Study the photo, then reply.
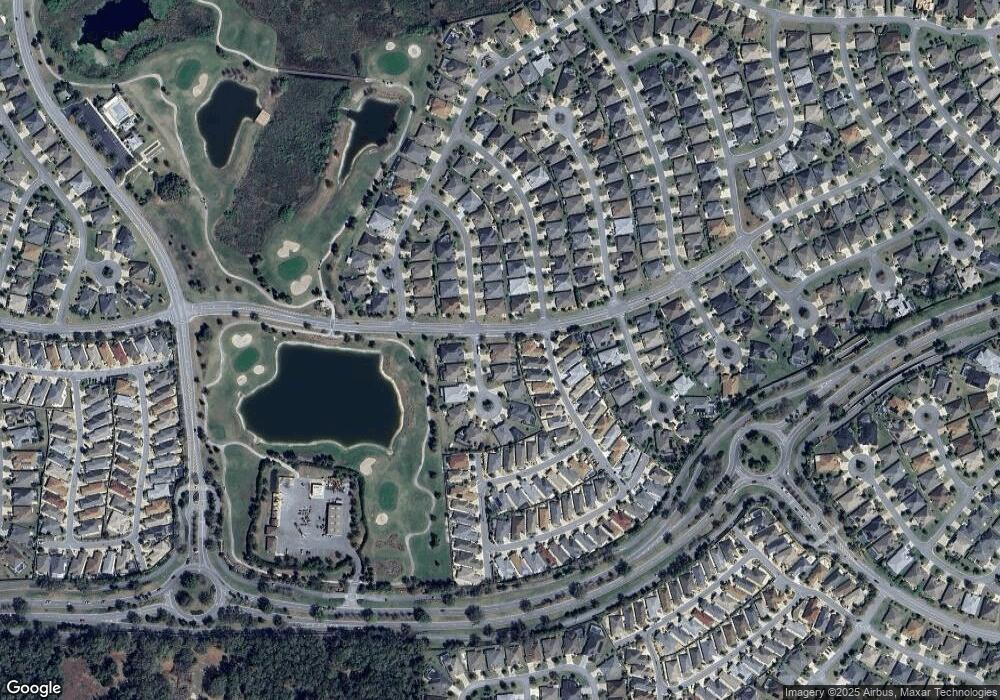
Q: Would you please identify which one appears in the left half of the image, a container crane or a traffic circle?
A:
traffic circle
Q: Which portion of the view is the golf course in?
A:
left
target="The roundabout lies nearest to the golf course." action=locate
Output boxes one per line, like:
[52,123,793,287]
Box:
[166,563,225,622]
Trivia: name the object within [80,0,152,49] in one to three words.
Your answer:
pond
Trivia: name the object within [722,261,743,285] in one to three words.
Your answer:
house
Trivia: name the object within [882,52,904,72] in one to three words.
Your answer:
house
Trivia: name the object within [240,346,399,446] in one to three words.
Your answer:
pond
